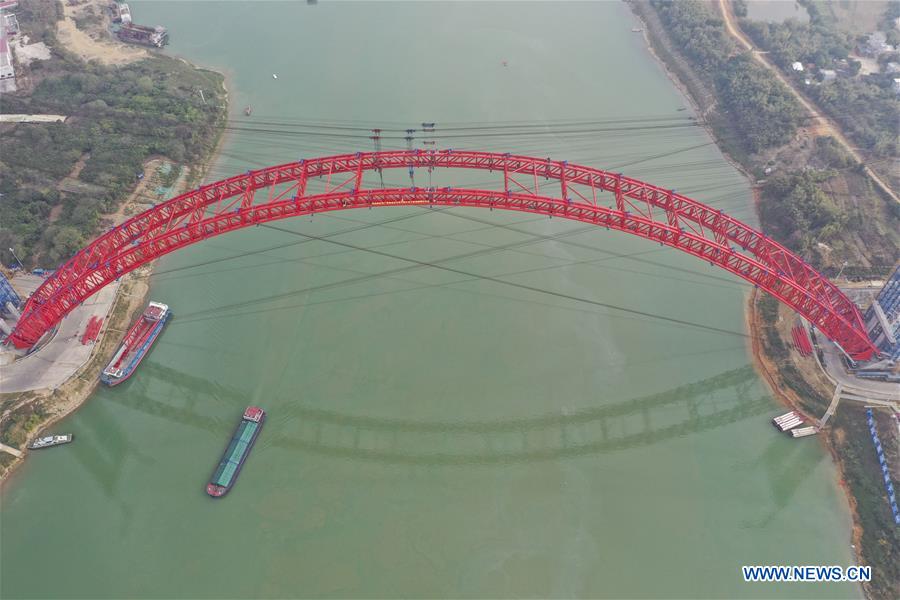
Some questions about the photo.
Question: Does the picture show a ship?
Yes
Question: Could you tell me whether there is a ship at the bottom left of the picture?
Yes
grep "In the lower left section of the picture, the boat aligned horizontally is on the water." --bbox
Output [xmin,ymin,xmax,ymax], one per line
[27,433,74,450]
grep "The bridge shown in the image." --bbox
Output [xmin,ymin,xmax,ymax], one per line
[0,148,888,365]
